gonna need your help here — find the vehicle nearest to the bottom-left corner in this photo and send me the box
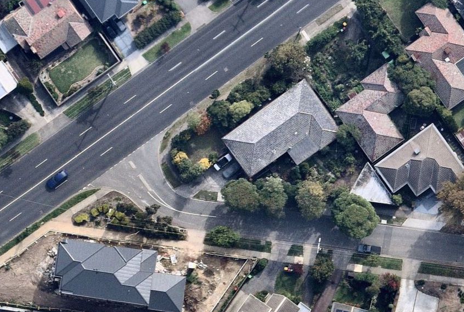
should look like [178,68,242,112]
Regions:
[47,170,68,189]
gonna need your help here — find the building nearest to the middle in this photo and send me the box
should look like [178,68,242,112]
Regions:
[222,76,339,177]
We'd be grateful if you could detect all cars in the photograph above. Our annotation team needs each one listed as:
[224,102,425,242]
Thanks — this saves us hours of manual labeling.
[358,245,382,254]
[103,21,119,38]
[221,160,242,179]
[213,152,235,171]
[113,14,130,36]
[47,170,68,189]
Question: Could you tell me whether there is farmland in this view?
No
